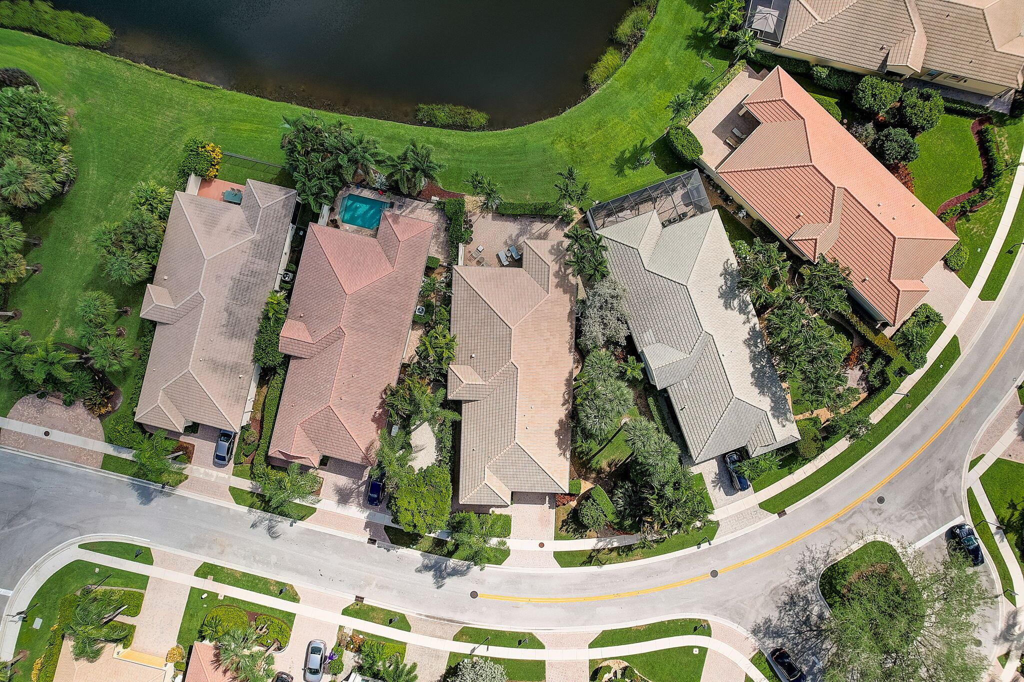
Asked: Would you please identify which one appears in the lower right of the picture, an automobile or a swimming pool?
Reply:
automobile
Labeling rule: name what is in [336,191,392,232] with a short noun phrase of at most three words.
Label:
swimming pool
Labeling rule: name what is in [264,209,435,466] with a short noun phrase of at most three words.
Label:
house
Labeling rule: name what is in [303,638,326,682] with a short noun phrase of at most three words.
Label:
car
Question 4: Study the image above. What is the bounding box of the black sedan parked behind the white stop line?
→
[949,519,985,568]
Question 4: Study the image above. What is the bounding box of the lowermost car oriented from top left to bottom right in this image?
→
[772,646,809,682]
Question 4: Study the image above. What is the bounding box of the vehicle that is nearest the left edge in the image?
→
[213,429,239,468]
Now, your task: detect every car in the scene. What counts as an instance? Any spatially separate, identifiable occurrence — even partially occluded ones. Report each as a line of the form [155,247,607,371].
[772,646,809,682]
[364,467,389,506]
[276,671,295,682]
[348,670,385,682]
[303,638,326,682]
[213,429,239,468]
[949,519,985,568]
[721,449,752,494]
